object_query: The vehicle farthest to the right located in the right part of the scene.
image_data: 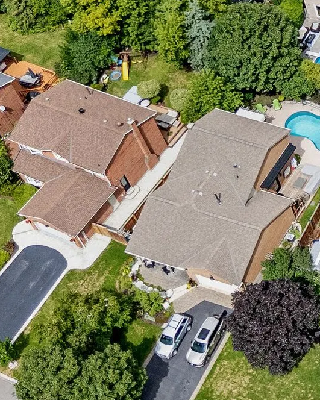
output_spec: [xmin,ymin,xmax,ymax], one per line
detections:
[188,313,225,365]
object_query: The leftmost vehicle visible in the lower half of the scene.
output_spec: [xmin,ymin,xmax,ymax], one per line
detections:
[154,315,192,360]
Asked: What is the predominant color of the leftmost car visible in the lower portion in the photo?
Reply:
white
